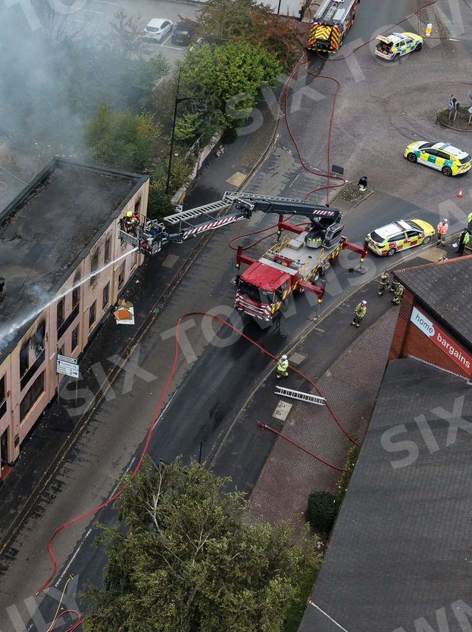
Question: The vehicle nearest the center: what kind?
truck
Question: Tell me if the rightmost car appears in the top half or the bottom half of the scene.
top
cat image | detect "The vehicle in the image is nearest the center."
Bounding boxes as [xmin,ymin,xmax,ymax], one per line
[124,185,368,327]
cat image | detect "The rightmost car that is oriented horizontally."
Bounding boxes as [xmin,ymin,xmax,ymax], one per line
[402,139,472,177]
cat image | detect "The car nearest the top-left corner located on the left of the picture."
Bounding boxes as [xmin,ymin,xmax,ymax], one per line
[136,14,174,41]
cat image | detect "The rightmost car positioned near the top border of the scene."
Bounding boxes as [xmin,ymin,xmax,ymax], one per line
[375,30,427,61]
